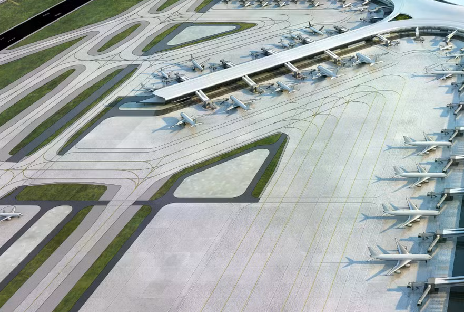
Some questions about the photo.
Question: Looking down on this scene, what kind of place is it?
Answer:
airport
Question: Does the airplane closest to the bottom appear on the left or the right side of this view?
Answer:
right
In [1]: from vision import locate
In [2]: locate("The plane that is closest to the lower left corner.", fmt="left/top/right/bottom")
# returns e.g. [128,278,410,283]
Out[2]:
[0,204,24,220]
